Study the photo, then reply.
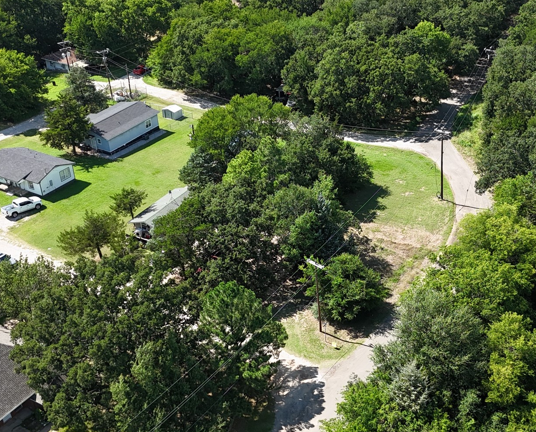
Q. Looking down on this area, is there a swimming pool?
No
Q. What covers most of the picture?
trees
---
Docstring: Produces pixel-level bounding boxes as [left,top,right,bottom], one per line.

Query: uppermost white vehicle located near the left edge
[1,197,44,217]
